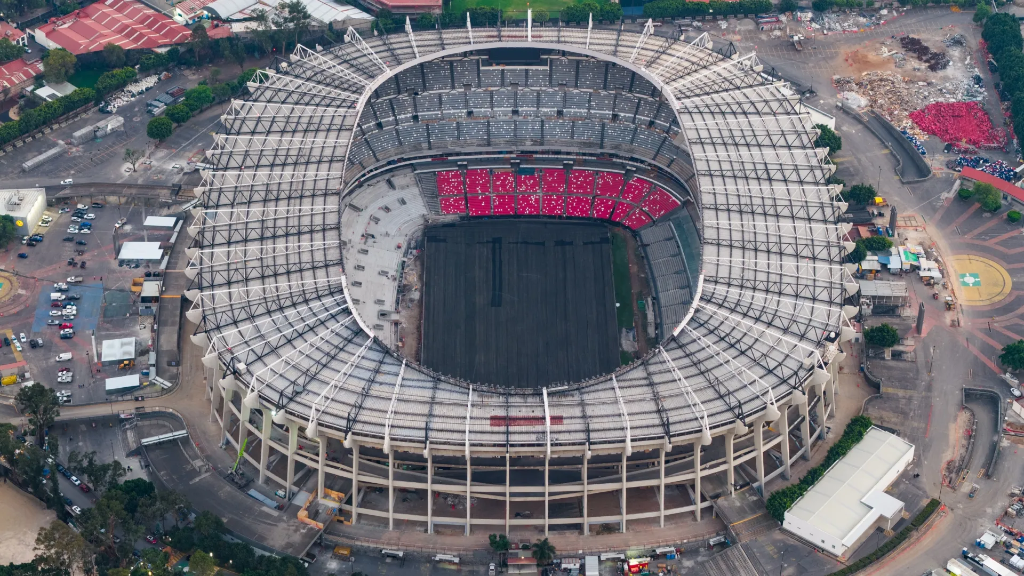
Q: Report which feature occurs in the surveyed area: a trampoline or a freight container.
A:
freight container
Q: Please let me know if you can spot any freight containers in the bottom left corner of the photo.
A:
Yes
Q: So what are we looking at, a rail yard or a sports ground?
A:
sports ground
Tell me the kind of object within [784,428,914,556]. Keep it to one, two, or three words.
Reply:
building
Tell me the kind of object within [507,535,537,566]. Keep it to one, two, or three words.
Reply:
building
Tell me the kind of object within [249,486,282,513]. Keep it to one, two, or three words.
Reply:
shipping container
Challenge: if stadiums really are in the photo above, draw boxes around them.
[181,12,861,534]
